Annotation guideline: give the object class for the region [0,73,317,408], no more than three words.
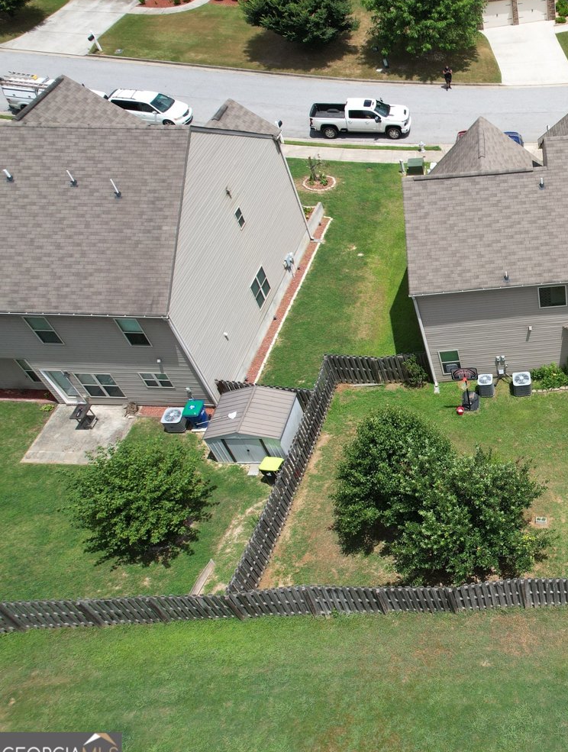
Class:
house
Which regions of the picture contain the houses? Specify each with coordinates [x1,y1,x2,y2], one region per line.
[402,113,568,390]
[0,73,317,408]
[474,0,568,30]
